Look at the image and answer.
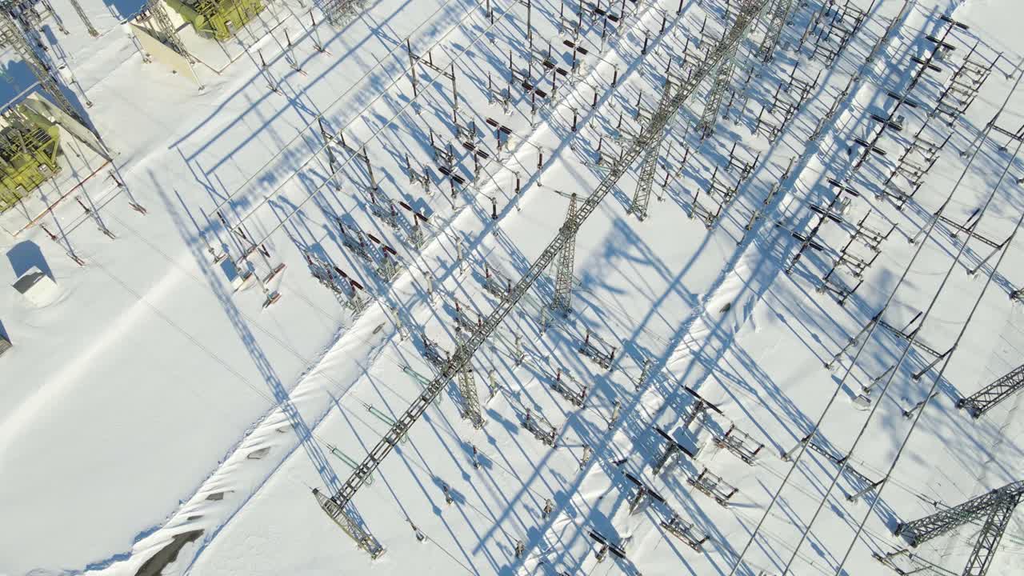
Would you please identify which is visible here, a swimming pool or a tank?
tank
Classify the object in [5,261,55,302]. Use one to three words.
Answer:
shed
